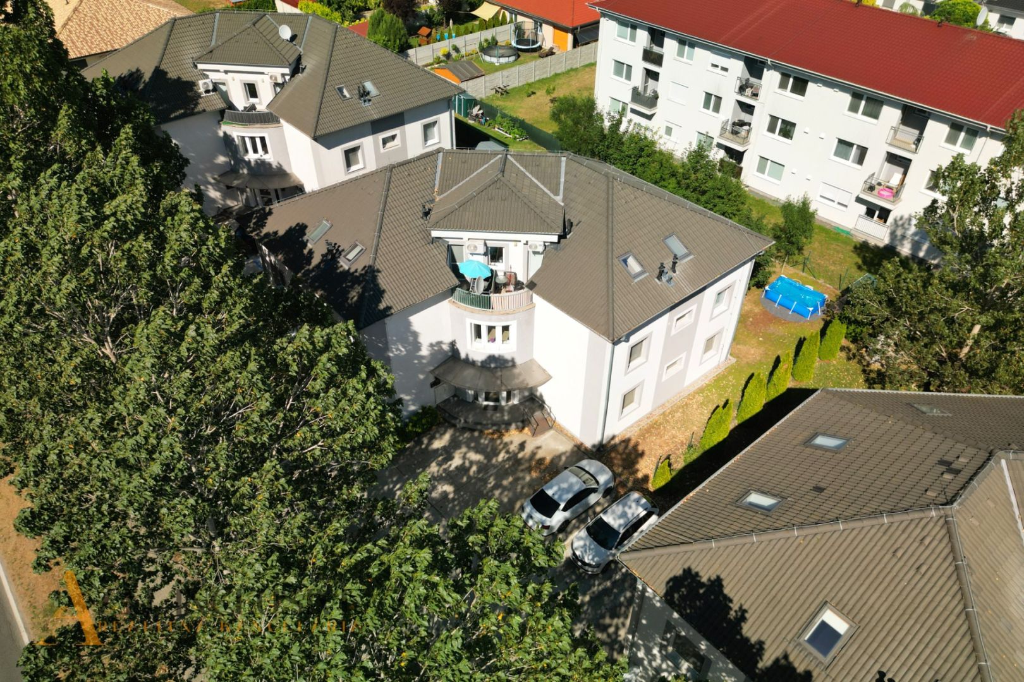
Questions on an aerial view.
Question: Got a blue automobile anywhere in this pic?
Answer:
No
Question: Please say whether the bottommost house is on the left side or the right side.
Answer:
right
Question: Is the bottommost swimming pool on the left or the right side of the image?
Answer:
right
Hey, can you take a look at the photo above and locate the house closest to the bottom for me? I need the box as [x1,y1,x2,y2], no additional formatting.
[599,382,1024,682]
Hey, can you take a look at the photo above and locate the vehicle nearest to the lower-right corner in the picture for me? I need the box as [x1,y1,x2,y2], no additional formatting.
[564,487,666,577]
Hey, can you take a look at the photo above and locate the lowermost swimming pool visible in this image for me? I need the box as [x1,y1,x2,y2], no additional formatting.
[755,274,832,324]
